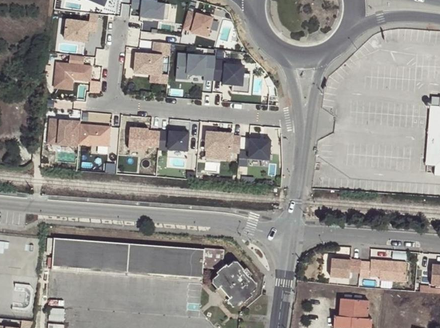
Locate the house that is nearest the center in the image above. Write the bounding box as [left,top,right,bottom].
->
[204,131,241,163]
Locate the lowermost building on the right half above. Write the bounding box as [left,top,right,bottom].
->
[334,300,373,328]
